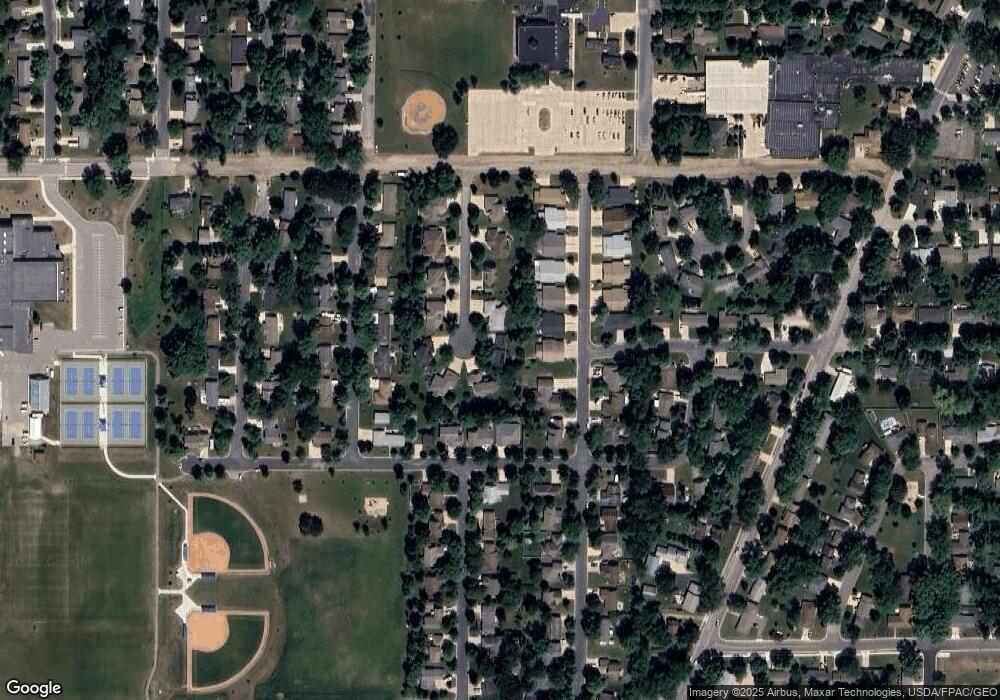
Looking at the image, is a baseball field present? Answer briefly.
Yes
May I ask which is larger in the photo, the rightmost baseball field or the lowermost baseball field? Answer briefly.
the lowermost baseball field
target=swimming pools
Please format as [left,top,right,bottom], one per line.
[881,417,898,432]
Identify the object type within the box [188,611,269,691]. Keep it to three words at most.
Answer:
baseball field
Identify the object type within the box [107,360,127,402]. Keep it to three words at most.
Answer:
tennis court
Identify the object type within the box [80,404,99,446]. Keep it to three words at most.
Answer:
tennis court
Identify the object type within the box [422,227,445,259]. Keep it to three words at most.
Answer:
house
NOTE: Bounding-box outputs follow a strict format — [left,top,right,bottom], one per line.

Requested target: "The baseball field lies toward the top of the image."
[402,90,445,134]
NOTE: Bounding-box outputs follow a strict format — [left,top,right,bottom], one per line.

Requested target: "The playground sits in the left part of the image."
[364,497,389,534]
